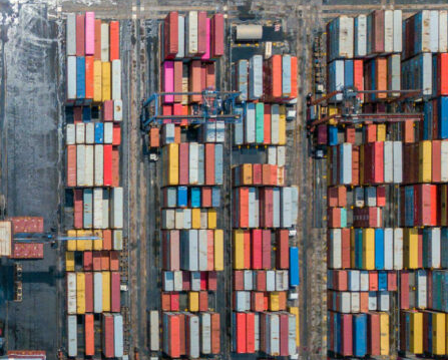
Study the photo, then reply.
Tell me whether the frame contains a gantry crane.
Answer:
Yes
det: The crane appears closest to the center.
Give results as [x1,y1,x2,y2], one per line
[145,93,244,137]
